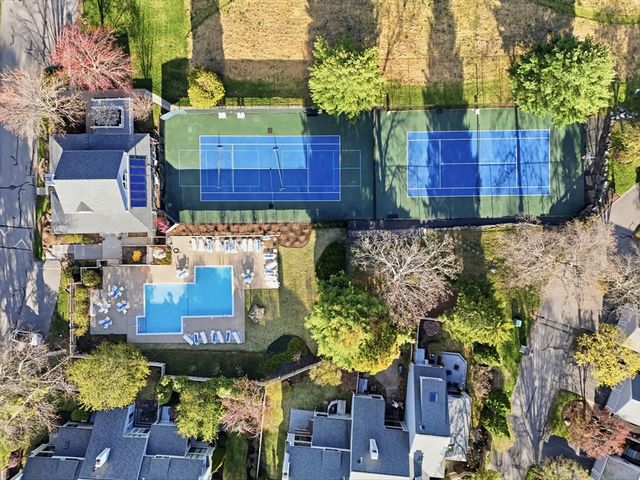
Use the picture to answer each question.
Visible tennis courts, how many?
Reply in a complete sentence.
Looking from above, you can make out 2 tennis courts.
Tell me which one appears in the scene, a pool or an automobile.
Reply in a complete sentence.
Visible in the photo is a pool.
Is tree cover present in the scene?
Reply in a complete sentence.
Yes, tree cover shows up in the scene.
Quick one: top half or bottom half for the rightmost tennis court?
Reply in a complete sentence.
The rightmost tennis court is in the top half of the image.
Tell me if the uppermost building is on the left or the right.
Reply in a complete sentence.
You can find the uppermost building on the left side of the picture.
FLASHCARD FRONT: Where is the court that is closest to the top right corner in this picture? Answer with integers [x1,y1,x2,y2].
[376,108,588,221]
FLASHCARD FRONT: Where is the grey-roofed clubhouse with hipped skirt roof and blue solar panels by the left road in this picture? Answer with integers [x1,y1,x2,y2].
[45,132,158,235]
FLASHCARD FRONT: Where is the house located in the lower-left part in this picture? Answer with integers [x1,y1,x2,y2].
[21,399,211,480]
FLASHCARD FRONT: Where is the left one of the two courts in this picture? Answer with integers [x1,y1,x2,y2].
[164,108,375,221]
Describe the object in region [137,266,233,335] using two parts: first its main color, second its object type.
blue swimming pool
